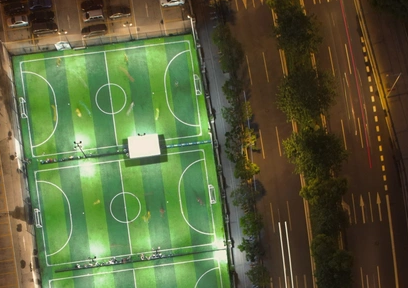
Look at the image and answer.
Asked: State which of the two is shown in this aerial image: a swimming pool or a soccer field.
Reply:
soccer field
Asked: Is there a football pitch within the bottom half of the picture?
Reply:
Yes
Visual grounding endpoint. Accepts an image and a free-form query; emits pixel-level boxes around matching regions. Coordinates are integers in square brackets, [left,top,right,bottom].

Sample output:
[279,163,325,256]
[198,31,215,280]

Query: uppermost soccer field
[11,34,205,165]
